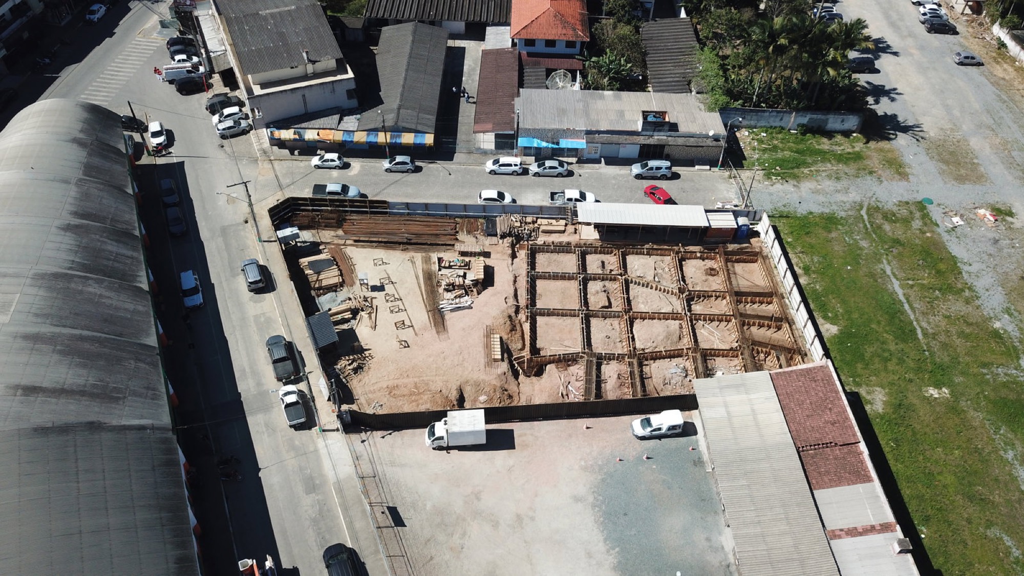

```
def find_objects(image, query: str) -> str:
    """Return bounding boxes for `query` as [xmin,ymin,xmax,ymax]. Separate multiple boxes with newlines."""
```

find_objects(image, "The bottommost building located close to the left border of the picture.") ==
[0,99,213,576]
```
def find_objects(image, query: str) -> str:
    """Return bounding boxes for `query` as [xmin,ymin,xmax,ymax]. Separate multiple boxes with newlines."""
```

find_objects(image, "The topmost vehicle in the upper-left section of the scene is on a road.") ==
[87,4,105,19]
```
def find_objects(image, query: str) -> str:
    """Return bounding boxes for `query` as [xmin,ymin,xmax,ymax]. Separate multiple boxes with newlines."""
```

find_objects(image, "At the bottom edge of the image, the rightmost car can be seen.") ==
[324,542,362,576]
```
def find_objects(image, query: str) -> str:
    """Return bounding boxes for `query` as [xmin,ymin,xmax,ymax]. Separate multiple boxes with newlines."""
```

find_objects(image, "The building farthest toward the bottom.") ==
[694,358,924,576]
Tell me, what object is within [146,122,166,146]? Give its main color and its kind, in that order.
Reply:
white car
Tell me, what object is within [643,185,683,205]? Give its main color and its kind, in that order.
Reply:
red car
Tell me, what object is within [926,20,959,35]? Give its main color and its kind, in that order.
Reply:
black car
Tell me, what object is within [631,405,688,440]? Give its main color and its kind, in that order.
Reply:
white van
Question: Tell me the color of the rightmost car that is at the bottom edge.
black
